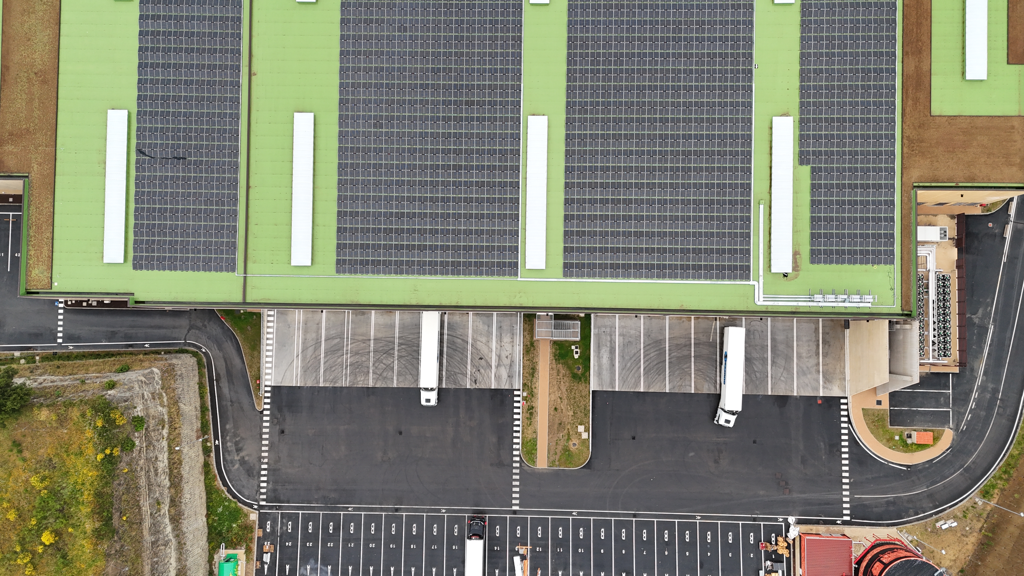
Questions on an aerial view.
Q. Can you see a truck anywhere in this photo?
Yes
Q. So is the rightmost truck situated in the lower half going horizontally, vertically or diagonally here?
vertically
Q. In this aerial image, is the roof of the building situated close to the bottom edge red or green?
red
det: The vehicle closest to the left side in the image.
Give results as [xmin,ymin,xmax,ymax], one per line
[419,312,441,406]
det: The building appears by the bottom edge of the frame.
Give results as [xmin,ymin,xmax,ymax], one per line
[799,533,854,576]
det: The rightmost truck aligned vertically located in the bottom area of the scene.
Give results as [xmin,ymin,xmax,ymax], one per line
[712,327,745,430]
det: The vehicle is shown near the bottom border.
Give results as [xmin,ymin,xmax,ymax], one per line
[466,512,486,576]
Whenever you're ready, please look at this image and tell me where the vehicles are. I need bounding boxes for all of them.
[419,312,441,406]
[712,327,745,430]
[466,512,486,576]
